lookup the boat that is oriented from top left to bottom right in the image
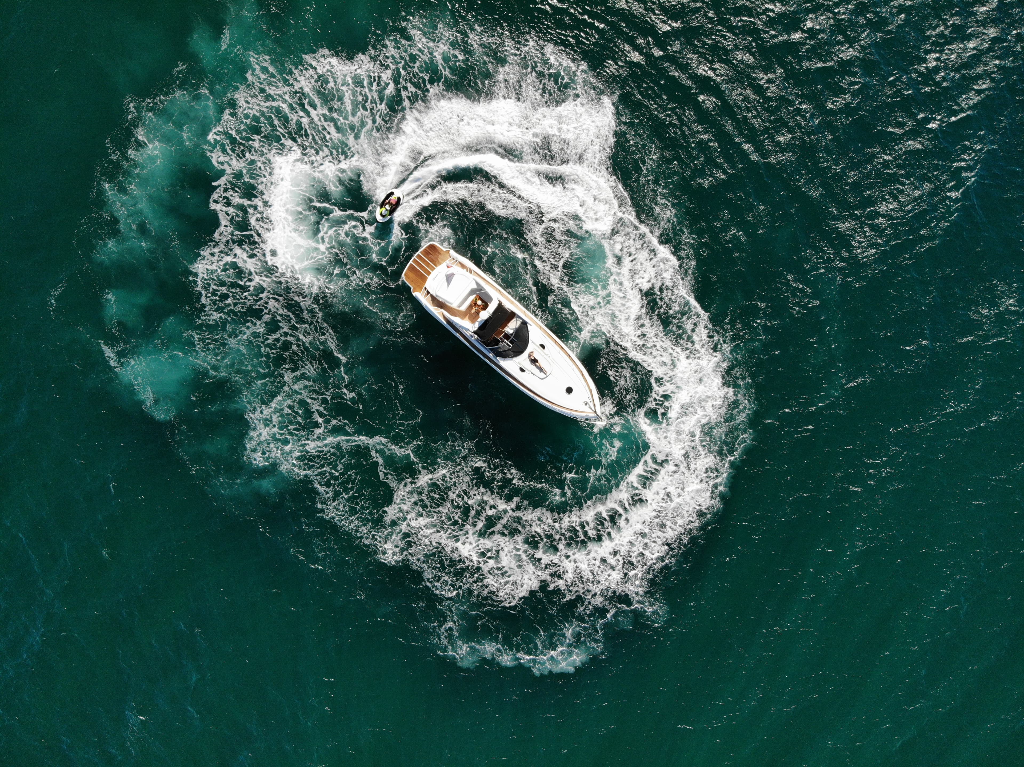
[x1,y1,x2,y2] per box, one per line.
[402,242,609,423]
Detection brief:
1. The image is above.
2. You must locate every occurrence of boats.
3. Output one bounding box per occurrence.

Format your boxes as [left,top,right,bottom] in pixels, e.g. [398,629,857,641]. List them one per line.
[376,188,401,222]
[402,242,609,423]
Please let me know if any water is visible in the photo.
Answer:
Yes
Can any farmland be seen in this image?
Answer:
No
